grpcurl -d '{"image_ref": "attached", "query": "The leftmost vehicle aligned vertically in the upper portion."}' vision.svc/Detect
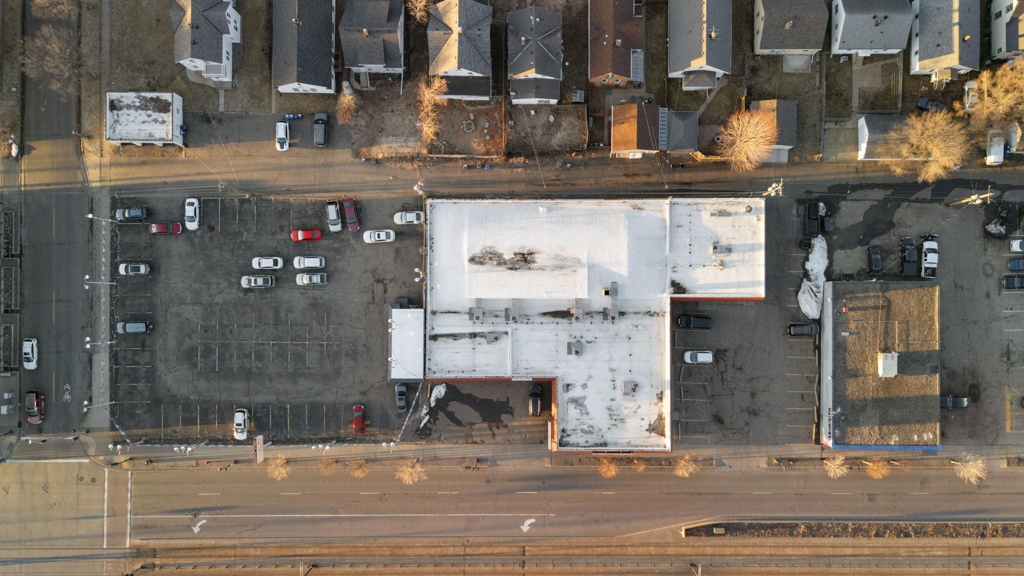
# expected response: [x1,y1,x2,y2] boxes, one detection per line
[186,199,201,230]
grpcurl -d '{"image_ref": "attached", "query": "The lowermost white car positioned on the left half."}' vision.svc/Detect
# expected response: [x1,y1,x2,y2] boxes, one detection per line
[233,408,250,438]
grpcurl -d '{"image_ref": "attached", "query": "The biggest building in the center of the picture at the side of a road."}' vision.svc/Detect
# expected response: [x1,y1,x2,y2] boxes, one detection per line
[425,198,766,454]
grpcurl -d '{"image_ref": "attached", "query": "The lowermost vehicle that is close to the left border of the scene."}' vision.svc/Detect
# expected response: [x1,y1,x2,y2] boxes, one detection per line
[26,390,46,423]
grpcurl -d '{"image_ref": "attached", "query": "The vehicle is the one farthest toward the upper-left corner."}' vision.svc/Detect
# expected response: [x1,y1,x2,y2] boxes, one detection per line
[118,207,149,222]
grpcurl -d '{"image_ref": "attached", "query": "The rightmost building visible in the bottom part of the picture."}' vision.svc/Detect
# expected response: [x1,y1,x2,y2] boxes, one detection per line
[820,282,943,449]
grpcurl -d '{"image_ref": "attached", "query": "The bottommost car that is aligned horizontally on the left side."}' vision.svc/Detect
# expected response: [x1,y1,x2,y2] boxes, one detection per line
[119,320,152,335]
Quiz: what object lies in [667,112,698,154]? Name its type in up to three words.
building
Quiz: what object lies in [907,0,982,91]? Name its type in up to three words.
house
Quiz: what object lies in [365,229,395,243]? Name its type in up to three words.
car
